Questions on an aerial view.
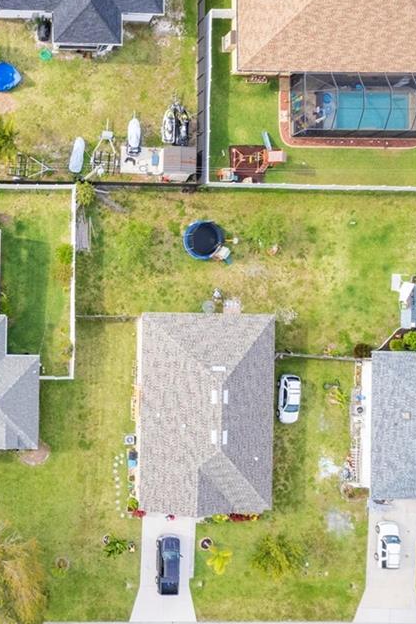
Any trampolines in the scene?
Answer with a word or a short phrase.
Yes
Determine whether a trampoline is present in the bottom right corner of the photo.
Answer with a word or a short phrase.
No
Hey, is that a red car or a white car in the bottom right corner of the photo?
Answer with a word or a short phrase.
white car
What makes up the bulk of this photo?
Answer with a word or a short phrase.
grass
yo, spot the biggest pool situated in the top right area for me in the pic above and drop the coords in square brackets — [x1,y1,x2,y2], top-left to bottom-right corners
[334,88,413,130]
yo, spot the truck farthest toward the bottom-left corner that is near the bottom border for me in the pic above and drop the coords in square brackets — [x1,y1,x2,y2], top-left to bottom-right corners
[156,533,183,596]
